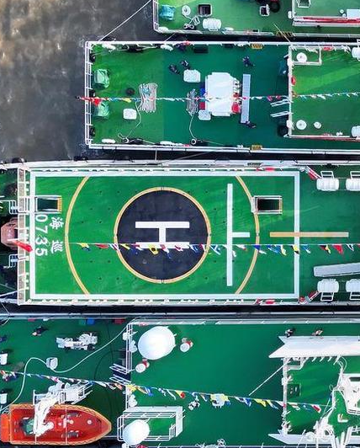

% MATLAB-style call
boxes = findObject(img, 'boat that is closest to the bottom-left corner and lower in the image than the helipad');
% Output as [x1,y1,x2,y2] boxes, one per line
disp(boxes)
[1,402,113,448]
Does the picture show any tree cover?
No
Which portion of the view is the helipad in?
center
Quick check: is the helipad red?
No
